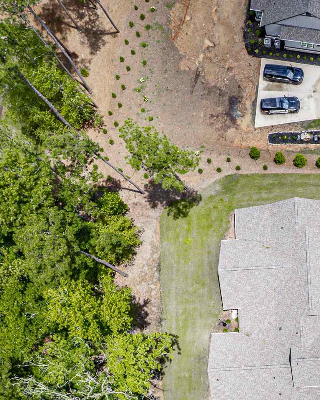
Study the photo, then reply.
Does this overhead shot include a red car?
No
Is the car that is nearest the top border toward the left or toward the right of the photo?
right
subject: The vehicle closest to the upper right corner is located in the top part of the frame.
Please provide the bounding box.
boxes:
[269,59,307,82]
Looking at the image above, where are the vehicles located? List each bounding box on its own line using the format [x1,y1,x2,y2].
[269,59,307,82]
[262,96,298,115]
